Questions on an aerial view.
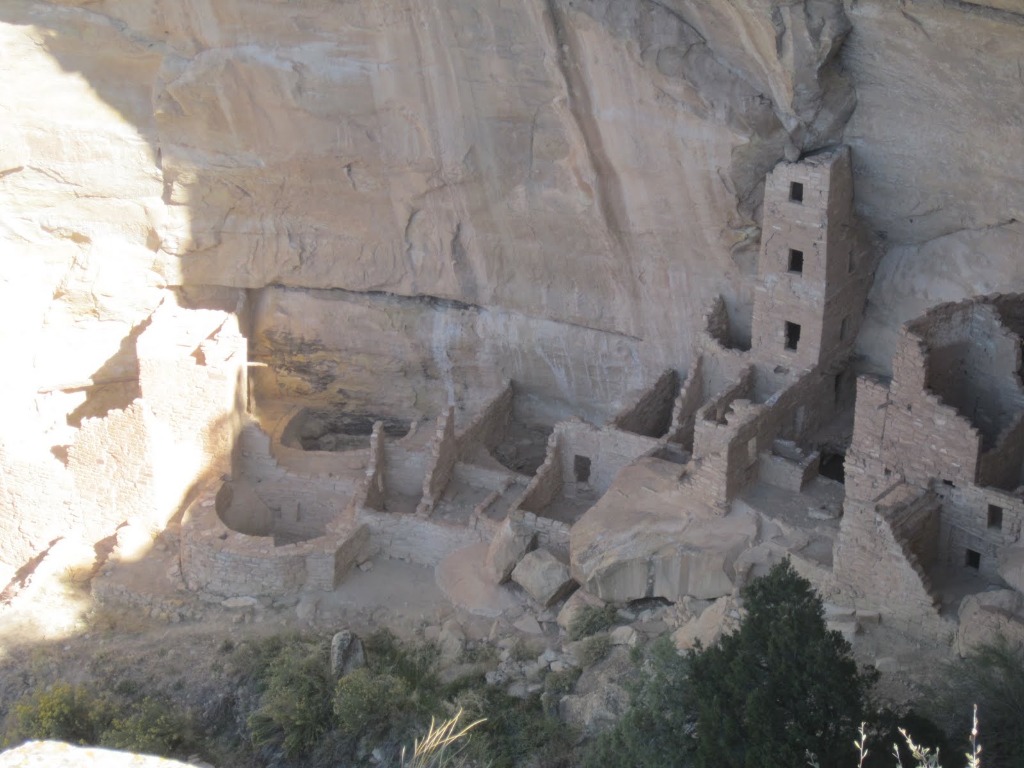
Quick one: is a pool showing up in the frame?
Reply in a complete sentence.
No, I find no pool anywhere in the image.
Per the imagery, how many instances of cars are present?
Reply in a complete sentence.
There are no cars in the image.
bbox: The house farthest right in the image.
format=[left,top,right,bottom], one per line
[840,292,1024,611]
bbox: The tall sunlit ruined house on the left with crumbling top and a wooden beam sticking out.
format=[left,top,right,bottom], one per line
[137,296,269,533]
